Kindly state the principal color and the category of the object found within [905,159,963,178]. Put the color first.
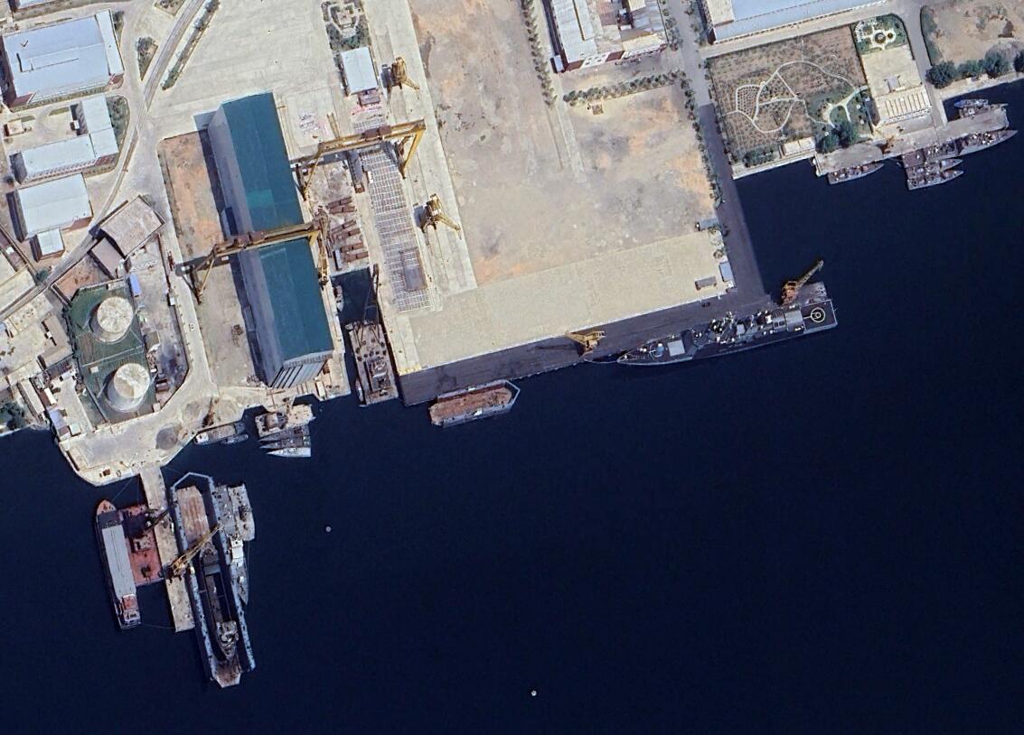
gray ship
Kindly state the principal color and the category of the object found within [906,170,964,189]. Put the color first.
gray ship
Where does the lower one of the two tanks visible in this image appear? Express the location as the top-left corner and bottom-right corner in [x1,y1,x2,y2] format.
[103,364,150,413]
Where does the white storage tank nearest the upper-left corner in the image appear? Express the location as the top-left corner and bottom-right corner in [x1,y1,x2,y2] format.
[87,301,134,350]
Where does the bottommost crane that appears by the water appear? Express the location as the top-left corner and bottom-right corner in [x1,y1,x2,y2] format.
[166,526,221,588]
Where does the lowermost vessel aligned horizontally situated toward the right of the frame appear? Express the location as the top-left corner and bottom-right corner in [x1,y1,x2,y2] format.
[619,301,838,364]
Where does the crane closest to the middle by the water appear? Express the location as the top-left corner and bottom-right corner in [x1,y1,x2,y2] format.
[560,330,604,362]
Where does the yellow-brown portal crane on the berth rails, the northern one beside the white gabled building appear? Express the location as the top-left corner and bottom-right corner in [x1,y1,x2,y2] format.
[388,61,421,95]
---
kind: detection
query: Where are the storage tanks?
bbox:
[87,301,134,350]
[103,364,150,413]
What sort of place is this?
port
